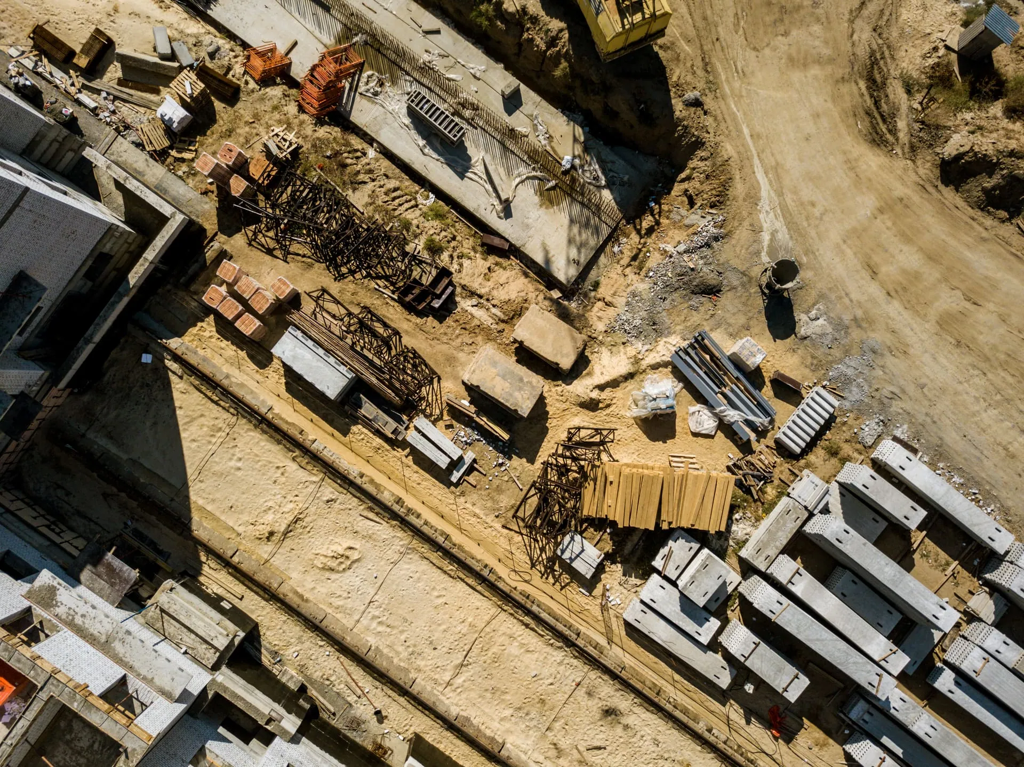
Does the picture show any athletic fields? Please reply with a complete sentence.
No, I can't see a single athletic field in this photo.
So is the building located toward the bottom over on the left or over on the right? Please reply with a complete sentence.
The building located toward the bottom sits on the left side.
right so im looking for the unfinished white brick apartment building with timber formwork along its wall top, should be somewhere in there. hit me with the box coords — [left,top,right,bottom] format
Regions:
[0,477,393,767]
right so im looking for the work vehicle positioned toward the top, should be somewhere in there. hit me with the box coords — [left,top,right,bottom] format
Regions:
[556,0,673,65]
